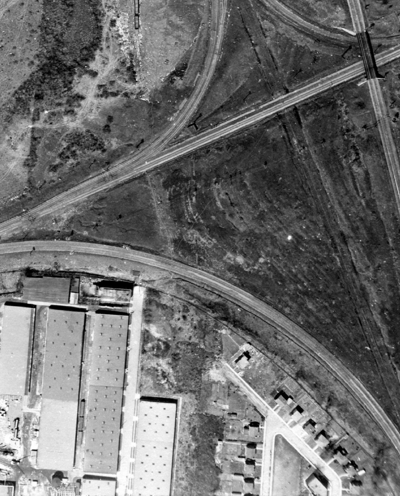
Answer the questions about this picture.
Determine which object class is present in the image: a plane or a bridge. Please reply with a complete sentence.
The one in the frame is a bridge.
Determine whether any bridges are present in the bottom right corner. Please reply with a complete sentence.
No, there's no bridge to be seen in the bottom right corner.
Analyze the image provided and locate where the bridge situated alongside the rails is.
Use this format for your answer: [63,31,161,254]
[331,26,386,86]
